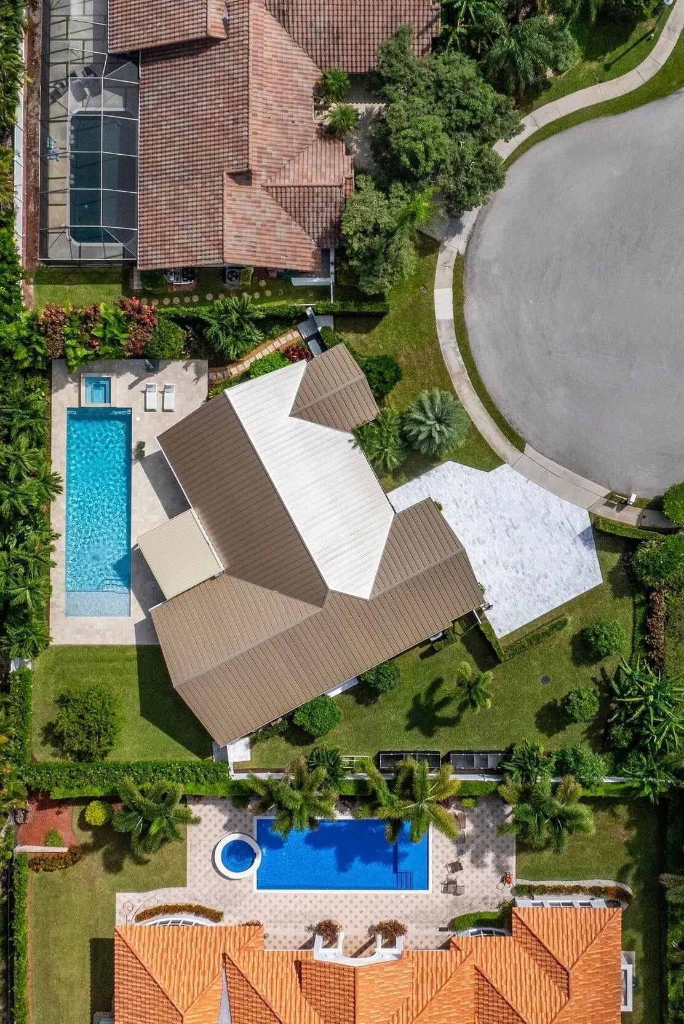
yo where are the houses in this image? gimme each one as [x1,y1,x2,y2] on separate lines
[107,0,440,271]
[114,892,623,1024]
[135,343,491,762]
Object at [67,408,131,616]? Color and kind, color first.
blue swimming pool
